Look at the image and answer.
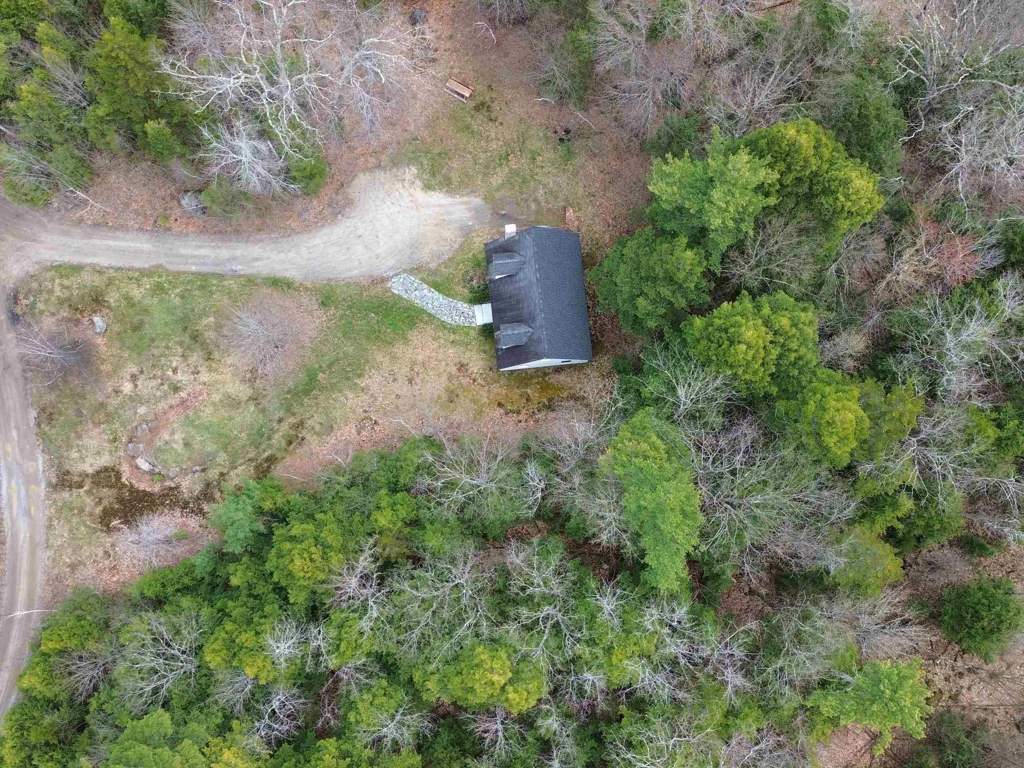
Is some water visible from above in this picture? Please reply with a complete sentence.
No, the picture contains no water.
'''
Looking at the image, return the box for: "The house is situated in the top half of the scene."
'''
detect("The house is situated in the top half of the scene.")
[475,219,594,373]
